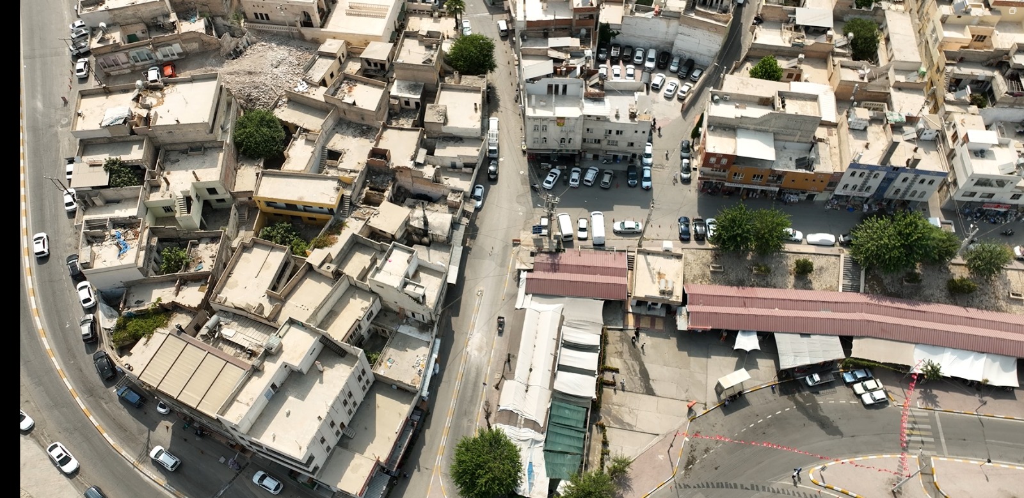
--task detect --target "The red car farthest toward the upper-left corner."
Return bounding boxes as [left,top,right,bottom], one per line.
[162,61,176,79]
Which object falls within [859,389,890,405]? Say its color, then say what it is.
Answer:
white car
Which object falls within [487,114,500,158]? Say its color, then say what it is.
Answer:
white vehicle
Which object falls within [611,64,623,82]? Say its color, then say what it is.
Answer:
white vehicle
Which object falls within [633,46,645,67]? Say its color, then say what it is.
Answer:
gray vehicle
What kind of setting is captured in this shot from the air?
residential area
